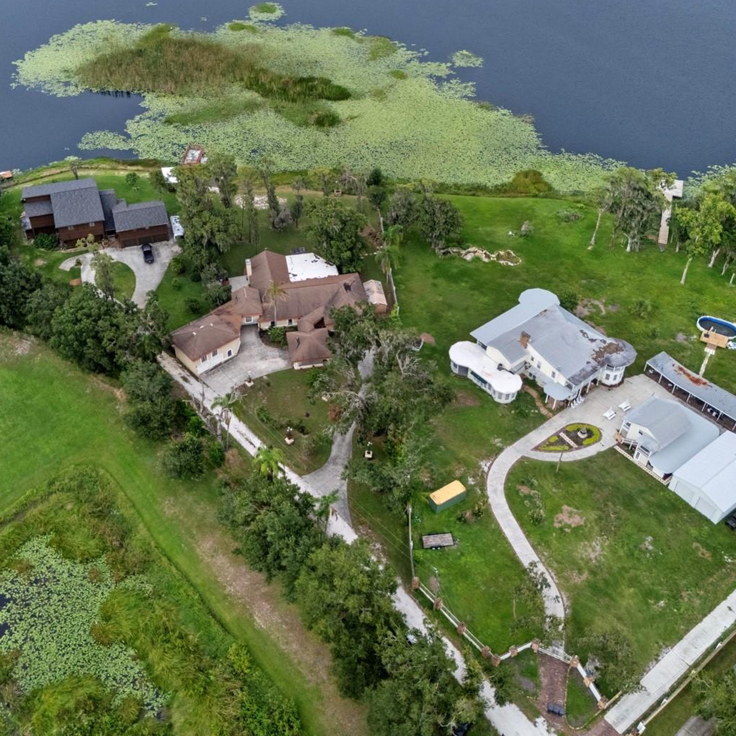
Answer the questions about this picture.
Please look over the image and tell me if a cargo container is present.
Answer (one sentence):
Yes, I can see a cargo container in this picture.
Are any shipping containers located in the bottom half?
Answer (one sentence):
Yes, a shipping container can be seen in the bottom half.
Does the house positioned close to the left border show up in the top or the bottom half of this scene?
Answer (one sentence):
You can find the house positioned close to the left border in the top half.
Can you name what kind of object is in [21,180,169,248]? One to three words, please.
house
